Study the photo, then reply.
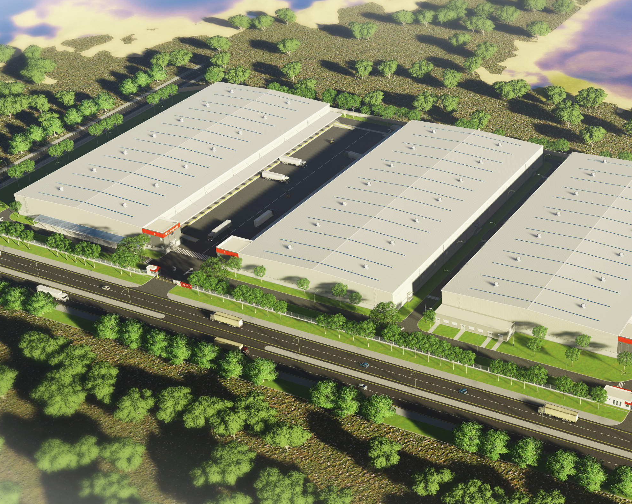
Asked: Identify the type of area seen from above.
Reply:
industrial area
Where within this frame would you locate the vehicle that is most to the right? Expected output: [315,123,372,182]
[540,405,578,424]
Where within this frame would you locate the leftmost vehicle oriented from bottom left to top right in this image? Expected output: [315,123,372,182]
[209,220,232,241]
